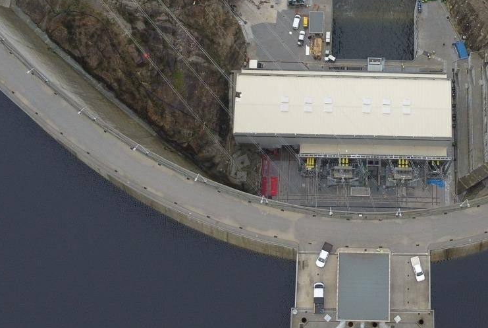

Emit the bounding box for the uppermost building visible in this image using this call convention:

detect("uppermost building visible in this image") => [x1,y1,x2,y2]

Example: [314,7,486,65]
[309,12,323,36]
